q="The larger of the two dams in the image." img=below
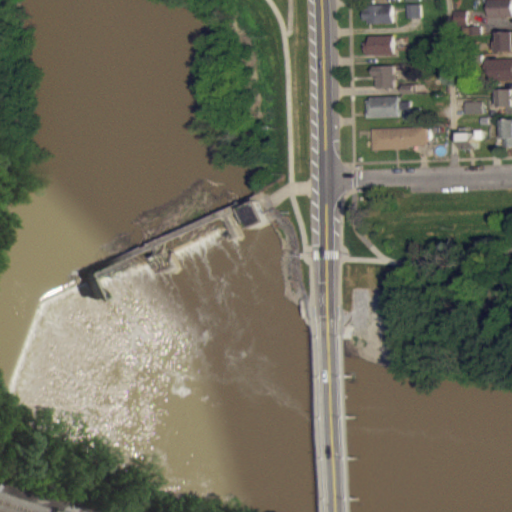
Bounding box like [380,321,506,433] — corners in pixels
[80,204,246,300]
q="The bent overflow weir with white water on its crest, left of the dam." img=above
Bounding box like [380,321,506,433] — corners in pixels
[6,271,80,396]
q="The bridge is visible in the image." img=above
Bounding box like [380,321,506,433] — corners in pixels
[300,300,362,512]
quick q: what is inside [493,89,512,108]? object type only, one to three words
house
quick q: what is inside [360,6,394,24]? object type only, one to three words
house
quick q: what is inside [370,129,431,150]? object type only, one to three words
building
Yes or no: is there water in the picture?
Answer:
Yes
